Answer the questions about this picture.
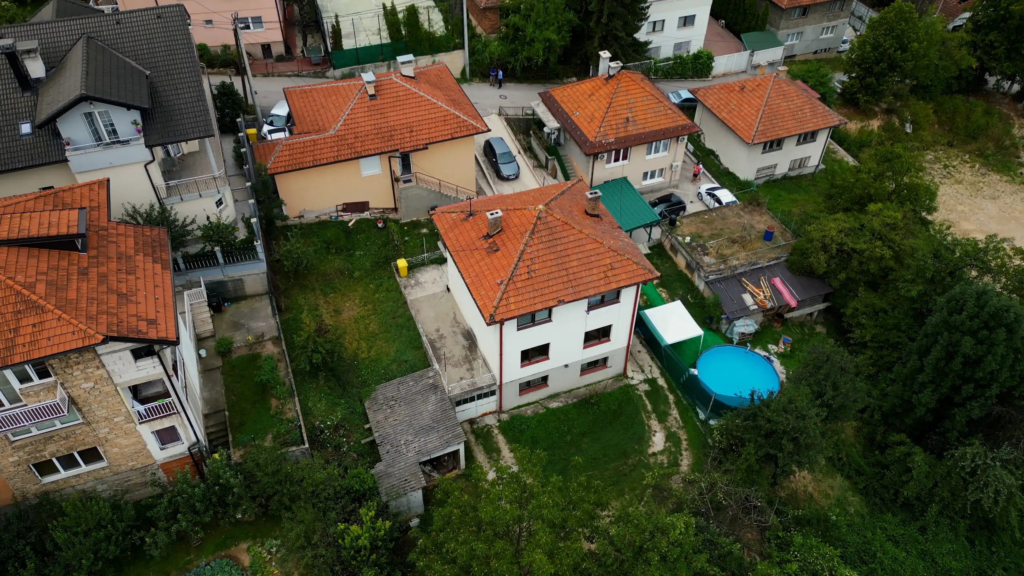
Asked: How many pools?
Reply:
one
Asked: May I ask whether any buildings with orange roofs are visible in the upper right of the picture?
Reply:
Yes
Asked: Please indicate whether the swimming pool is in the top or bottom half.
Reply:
bottom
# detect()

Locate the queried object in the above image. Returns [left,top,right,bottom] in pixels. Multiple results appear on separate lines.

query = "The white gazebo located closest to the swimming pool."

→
[642,301,705,360]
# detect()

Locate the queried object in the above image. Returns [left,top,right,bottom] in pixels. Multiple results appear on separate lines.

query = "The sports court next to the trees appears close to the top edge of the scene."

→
[318,0,447,67]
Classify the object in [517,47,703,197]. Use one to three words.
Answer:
house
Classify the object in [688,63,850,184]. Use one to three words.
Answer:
house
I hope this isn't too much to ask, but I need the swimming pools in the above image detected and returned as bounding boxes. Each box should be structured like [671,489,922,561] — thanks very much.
[694,341,782,425]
